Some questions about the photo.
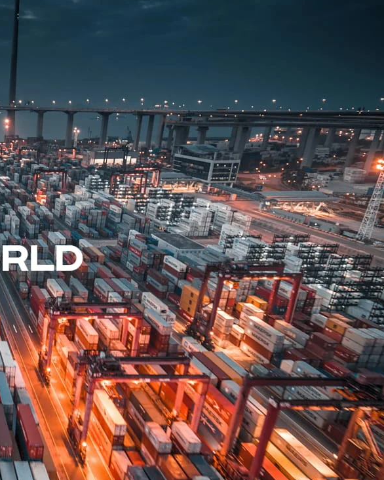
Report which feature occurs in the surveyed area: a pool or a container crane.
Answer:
container crane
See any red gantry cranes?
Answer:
Yes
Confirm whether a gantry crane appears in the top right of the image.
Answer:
No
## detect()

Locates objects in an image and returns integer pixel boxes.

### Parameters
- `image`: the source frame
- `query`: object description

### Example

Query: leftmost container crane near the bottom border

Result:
[68,347,219,468]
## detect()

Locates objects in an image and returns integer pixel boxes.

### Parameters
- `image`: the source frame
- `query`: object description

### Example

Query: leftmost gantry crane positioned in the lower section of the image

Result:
[34,286,140,377]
